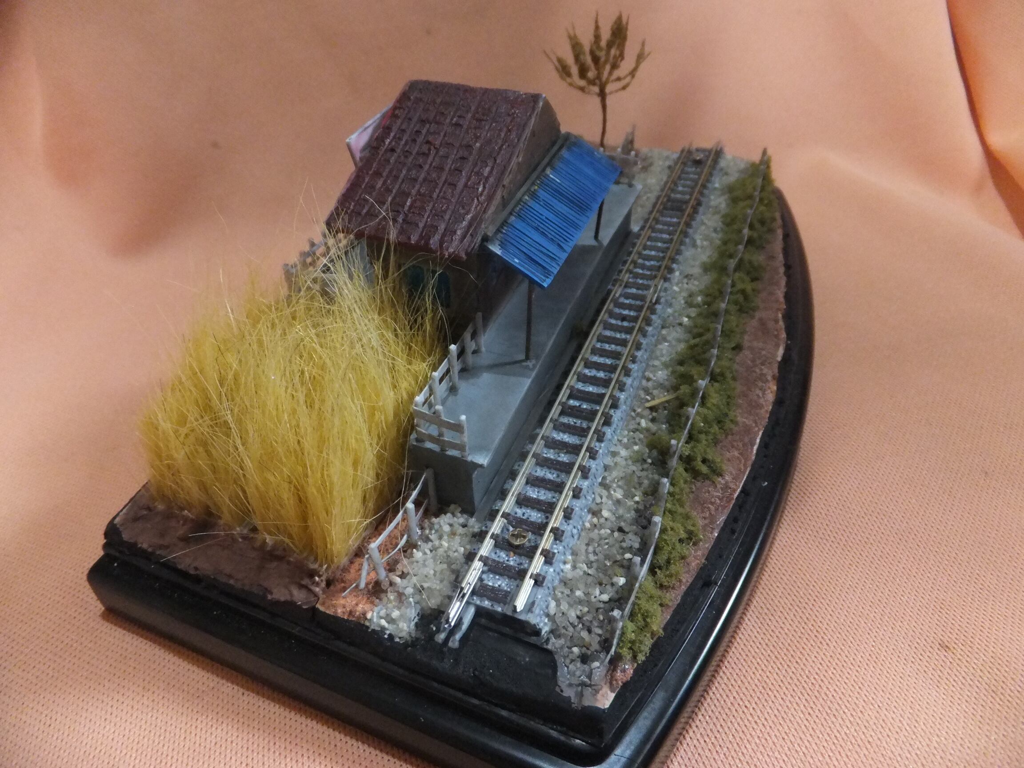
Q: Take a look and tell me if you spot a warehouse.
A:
No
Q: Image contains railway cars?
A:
No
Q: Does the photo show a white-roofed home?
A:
No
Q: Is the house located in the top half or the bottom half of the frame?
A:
top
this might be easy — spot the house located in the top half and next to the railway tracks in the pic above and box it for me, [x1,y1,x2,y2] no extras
[318,81,620,373]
